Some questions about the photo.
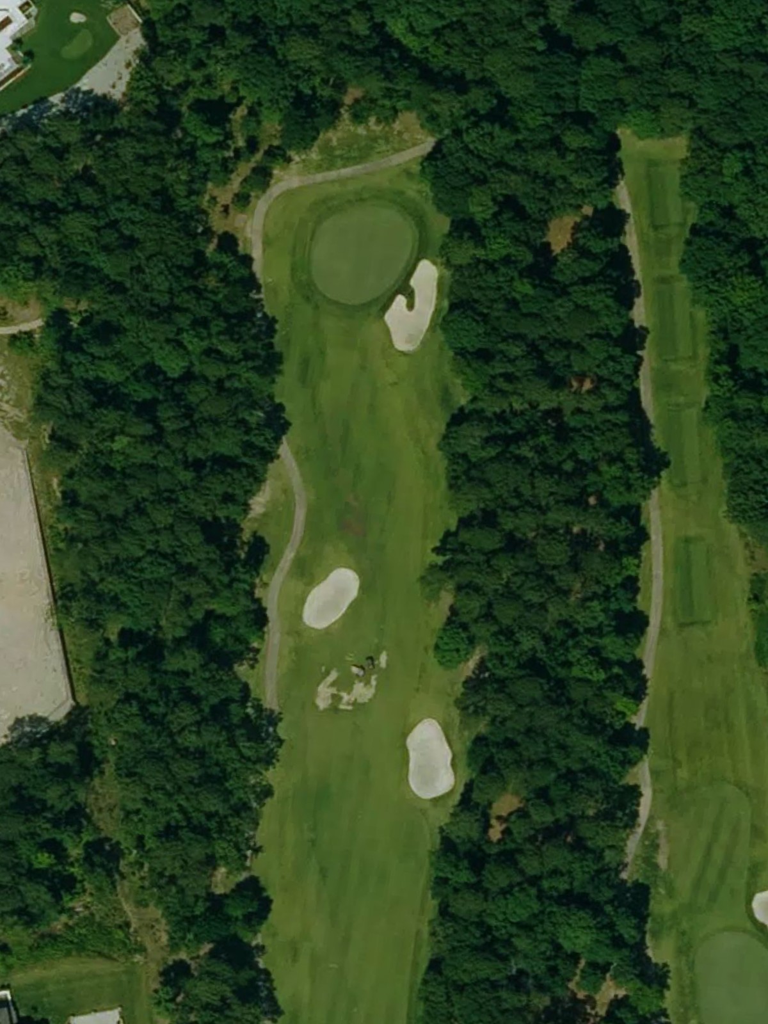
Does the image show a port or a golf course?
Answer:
golf course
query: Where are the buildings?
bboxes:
[0,988,17,1024]
[0,0,37,90]
[69,1008,122,1024]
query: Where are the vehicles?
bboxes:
[350,665,365,677]
[366,656,374,668]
